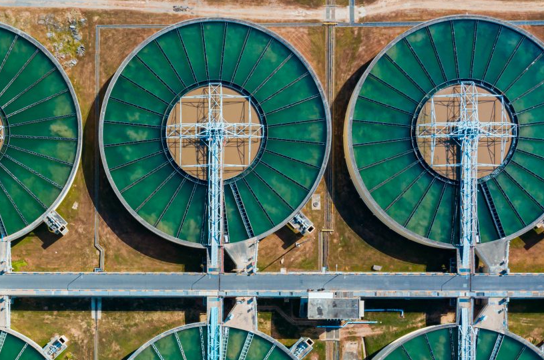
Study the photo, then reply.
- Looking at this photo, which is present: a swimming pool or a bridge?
bridge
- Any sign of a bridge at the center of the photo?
Yes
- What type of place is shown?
industrial area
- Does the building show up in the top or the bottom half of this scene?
bottom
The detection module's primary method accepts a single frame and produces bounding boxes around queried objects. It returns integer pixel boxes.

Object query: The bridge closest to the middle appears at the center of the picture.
[165,81,265,274]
